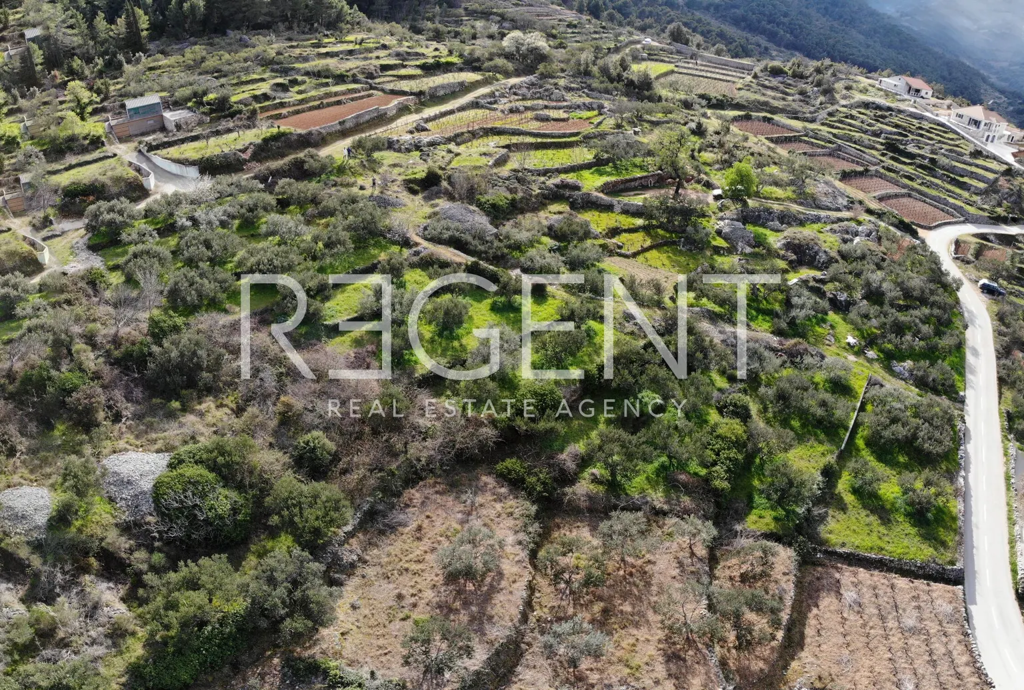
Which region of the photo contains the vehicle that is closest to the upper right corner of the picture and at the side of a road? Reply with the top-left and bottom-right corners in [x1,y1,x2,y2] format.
[977,277,1009,295]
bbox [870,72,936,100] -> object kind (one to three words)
house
